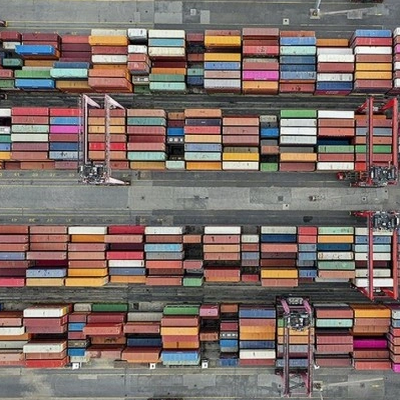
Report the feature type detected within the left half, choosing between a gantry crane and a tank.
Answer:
gantry crane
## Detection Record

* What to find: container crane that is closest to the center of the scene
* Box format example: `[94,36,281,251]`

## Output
[78,92,134,185]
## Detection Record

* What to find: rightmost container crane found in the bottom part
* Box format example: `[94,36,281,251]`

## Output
[348,209,400,301]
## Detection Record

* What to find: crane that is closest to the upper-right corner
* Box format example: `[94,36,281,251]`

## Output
[348,95,399,186]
